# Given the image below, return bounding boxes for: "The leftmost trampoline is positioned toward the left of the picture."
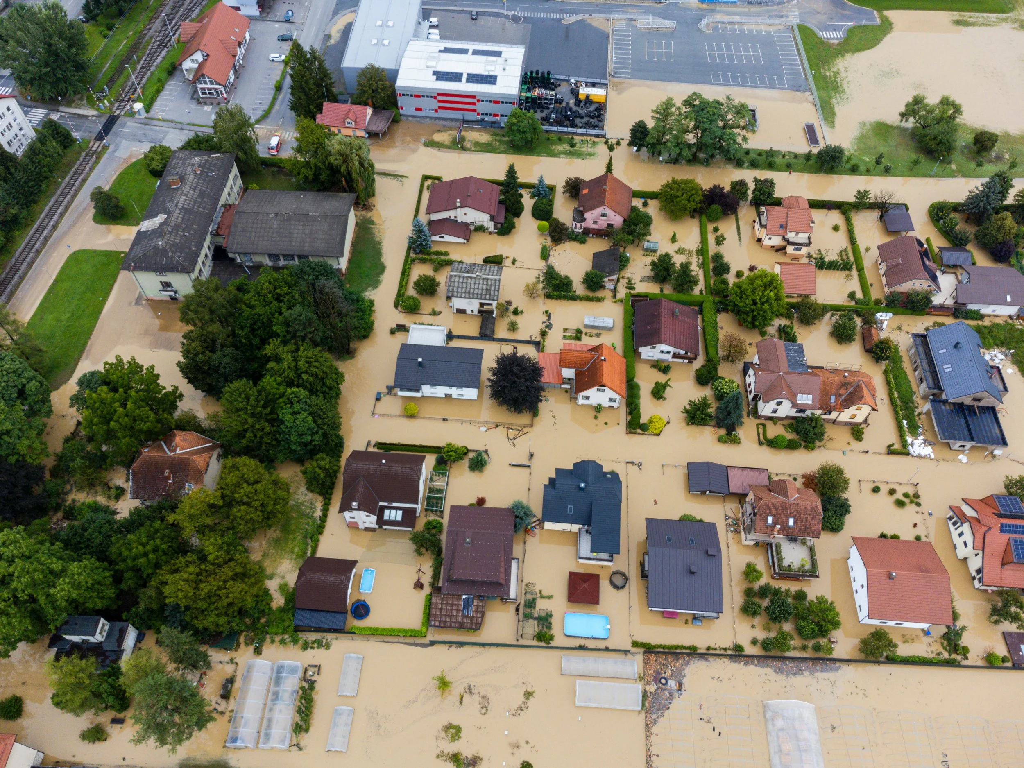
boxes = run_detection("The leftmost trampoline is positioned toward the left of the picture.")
[349,596,372,622]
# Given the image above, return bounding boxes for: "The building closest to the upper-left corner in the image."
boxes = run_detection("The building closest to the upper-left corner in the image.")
[0,95,36,157]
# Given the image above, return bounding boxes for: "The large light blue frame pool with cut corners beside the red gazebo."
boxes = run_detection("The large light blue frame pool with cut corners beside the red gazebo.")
[564,613,611,639]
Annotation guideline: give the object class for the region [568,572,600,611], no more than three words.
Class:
gazebo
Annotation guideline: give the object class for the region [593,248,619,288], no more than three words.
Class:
shed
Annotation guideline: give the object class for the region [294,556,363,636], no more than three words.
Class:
building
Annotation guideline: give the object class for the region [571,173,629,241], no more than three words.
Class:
house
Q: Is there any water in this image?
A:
Yes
